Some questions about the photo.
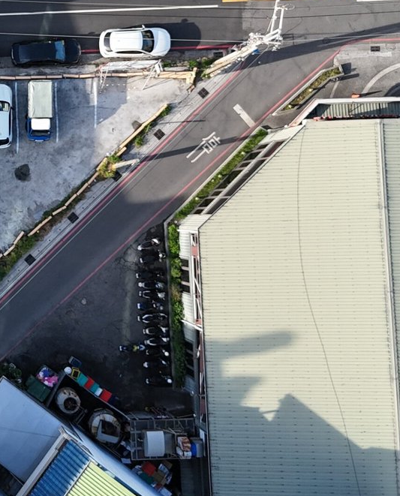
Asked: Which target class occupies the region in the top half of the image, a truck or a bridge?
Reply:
truck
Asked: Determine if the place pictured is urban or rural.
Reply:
urban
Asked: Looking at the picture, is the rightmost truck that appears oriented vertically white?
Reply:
Yes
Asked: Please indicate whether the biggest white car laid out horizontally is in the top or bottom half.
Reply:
top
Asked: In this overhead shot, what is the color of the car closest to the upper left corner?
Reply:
black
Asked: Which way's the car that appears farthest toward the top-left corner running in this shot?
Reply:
from left to right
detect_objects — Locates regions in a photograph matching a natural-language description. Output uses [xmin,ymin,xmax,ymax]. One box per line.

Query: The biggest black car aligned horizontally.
[12,34,81,68]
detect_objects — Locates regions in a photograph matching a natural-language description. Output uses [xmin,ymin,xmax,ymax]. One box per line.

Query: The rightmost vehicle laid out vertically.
[26,79,57,143]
